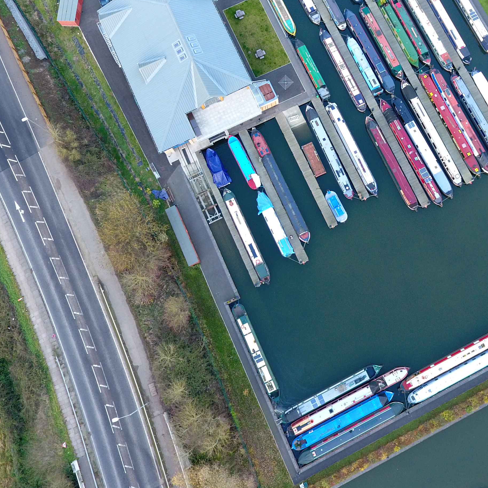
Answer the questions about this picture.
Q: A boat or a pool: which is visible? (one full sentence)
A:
This aerial view contains a boat.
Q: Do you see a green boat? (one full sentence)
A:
Yes, I can see a green boat in this picture.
